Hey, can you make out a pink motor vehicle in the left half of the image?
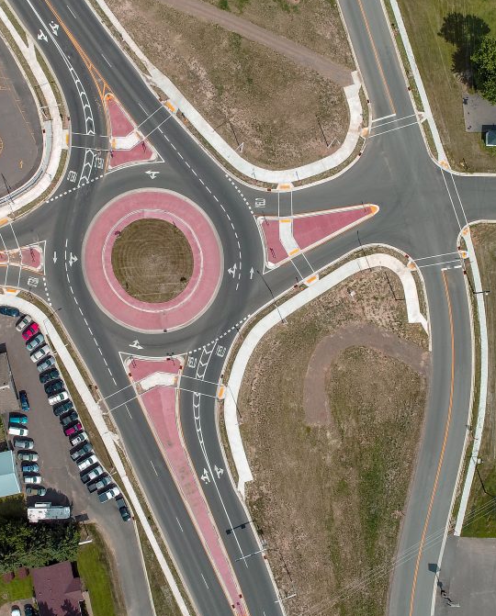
Yes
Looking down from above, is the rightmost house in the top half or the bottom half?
bottom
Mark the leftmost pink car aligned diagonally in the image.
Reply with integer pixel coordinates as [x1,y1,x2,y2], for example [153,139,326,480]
[21,322,40,340]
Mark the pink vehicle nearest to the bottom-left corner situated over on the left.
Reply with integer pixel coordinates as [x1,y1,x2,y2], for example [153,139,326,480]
[62,422,85,436]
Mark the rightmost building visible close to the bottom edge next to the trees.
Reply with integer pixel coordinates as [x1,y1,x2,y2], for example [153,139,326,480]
[32,560,86,616]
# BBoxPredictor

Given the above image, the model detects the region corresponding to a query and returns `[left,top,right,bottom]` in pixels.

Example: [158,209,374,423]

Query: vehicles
[18,389,30,411]
[96,488,121,504]
[79,465,104,483]
[53,401,73,416]
[36,357,55,373]
[114,497,131,521]
[25,605,34,616]
[8,427,29,437]
[87,476,111,493]
[77,454,99,469]
[15,315,33,333]
[39,368,61,383]
[69,431,88,446]
[17,452,39,460]
[24,476,42,483]
[44,380,65,395]
[62,422,85,436]
[21,322,40,340]
[13,439,34,449]
[25,486,47,497]
[70,444,92,460]
[25,334,46,351]
[0,306,20,315]
[7,416,30,423]
[31,345,51,361]
[59,411,80,426]
[21,463,39,473]
[11,607,21,616]
[48,391,69,405]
